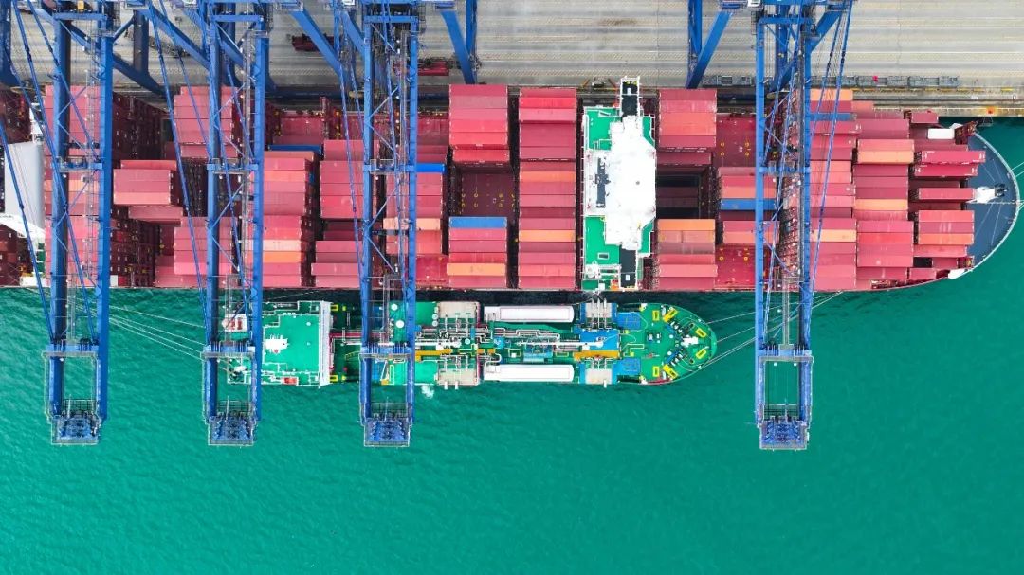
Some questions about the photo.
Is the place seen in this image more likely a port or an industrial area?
port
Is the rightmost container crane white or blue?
blue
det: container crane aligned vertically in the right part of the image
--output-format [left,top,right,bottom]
[682,0,856,449]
